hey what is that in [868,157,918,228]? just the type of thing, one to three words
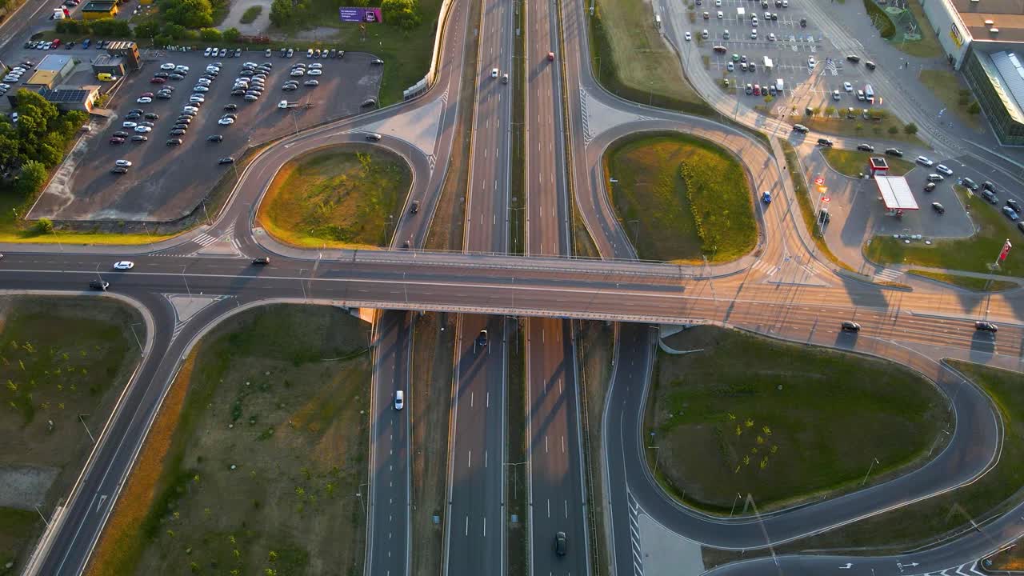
gas station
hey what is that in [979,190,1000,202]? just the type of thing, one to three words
vehicle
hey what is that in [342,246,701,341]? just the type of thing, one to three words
bridge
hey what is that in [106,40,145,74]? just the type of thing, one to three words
building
